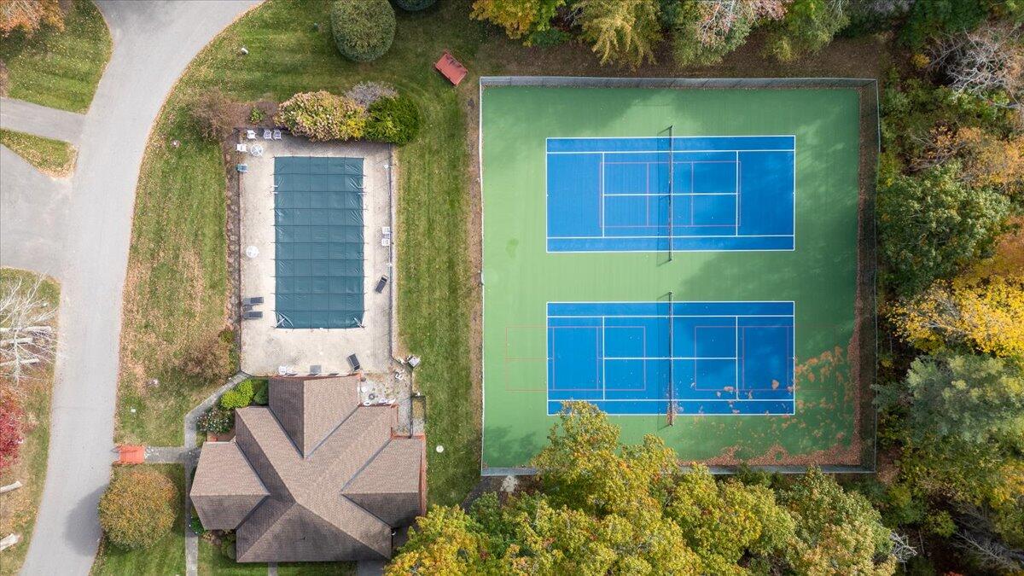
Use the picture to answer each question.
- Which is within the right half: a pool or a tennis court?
tennis court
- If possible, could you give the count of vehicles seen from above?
0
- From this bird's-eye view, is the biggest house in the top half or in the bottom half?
bottom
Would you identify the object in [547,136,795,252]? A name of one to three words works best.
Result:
tennis court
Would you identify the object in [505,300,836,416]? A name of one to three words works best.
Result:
tennis court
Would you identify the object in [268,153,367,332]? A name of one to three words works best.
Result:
swimming pool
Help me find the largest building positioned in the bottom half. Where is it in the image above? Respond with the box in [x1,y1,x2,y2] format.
[190,372,425,562]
